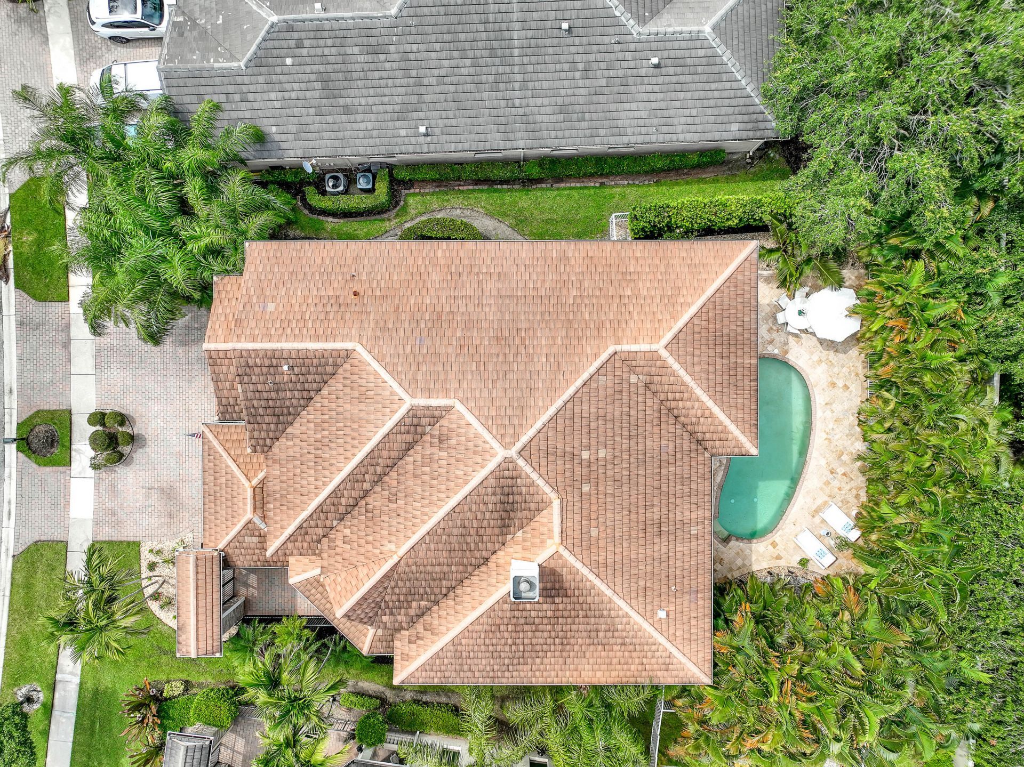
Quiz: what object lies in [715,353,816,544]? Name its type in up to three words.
swimming pool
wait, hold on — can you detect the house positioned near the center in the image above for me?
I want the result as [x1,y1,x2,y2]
[199,239,761,688]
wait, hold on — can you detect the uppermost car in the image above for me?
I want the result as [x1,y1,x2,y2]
[81,0,166,45]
